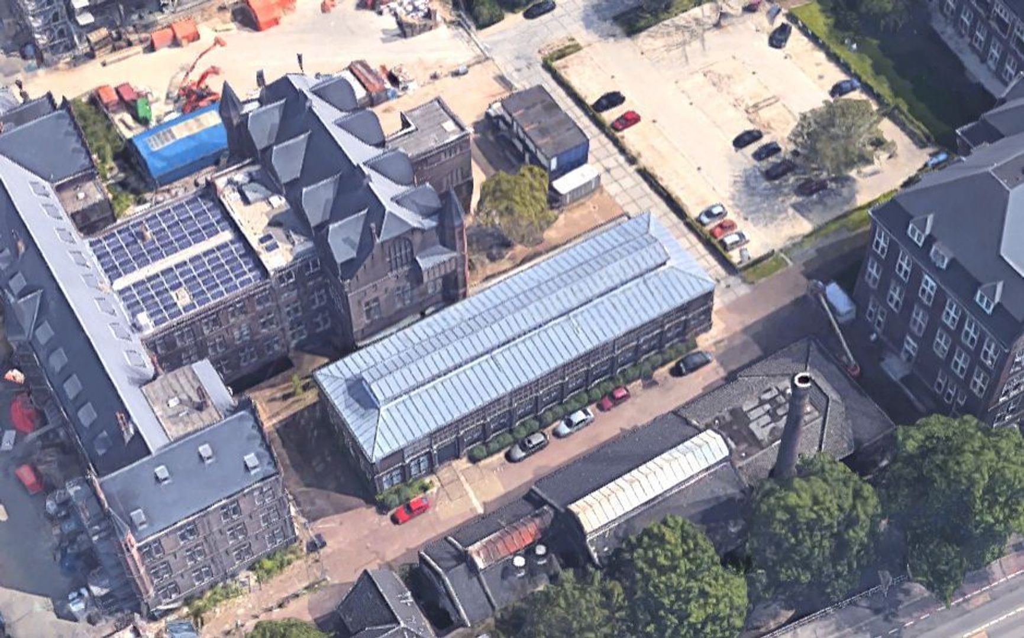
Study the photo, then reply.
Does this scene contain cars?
Yes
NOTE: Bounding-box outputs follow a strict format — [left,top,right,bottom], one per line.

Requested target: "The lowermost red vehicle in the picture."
[388,494,434,528]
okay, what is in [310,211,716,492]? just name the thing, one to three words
building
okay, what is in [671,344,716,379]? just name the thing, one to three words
car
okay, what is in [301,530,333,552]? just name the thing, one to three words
car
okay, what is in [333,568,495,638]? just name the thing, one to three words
house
